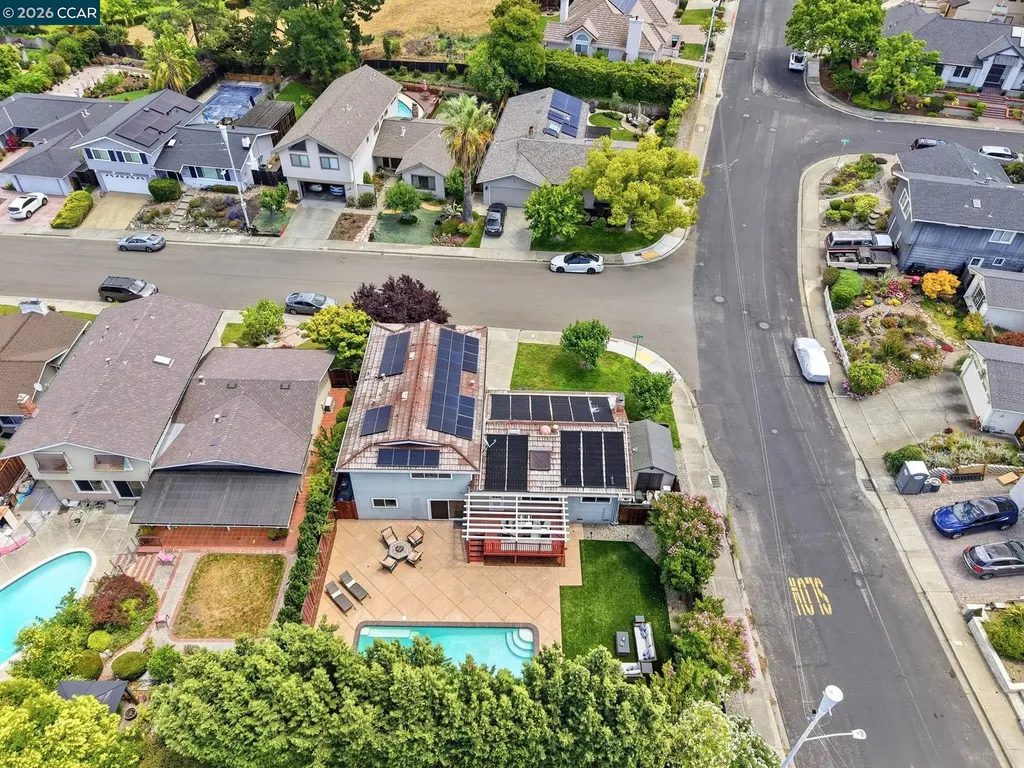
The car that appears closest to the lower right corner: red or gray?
gray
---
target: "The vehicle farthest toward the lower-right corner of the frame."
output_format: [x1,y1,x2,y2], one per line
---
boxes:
[966,539,1024,585]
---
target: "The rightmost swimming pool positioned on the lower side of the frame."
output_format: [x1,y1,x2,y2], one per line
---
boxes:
[358,628,532,695]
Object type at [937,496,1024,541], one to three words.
car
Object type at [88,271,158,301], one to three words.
car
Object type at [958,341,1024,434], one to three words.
building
